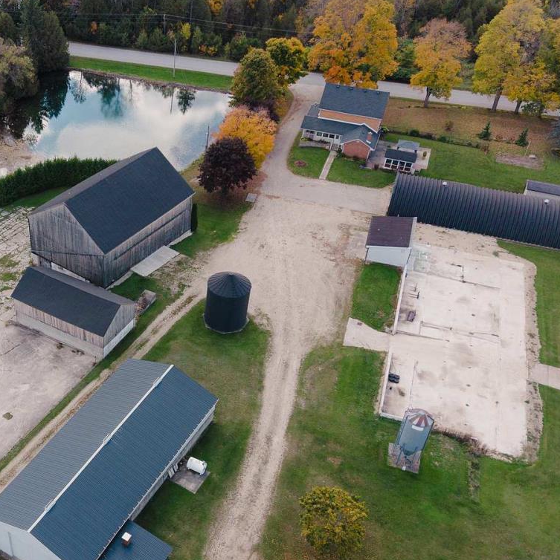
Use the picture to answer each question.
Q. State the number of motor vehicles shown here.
0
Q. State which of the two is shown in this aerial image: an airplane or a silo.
silo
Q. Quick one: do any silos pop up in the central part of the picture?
Yes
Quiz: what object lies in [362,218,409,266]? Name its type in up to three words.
shed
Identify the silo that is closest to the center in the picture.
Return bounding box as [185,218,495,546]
[201,270,256,337]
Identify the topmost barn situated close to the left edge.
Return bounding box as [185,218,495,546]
[26,145,198,292]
